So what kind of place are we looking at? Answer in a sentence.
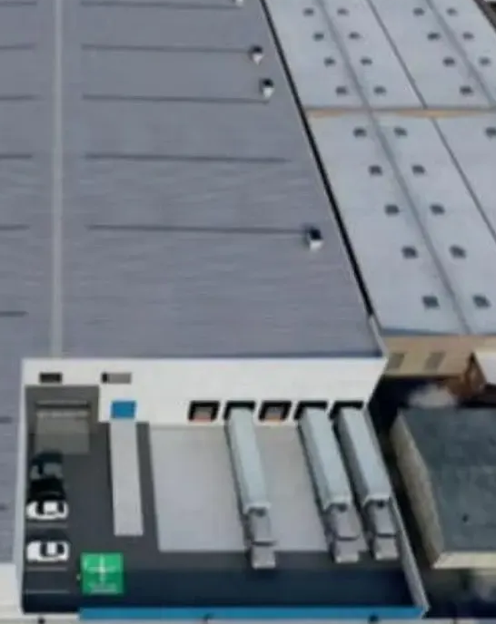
It's an industrial area.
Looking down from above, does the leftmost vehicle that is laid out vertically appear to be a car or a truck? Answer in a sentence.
The leftmost vehicle that is laid out vertically appears to be a truck.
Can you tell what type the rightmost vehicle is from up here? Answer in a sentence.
The rightmost vehicle is a truck.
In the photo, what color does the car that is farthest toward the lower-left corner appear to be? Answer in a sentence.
From above, the car that is farthest toward the lower-left corner appears white.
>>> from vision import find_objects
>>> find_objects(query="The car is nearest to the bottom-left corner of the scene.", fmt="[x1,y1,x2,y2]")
[26,539,69,562]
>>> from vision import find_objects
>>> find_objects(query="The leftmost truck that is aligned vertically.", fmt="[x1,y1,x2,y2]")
[228,407,279,568]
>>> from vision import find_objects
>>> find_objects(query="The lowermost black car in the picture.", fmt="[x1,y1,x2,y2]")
[24,475,64,497]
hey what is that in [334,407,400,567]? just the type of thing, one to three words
truck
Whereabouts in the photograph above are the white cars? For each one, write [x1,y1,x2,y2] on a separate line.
[26,539,69,562]
[26,499,67,521]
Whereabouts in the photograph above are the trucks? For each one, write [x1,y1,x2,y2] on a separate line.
[299,407,360,567]
[228,407,279,568]
[334,407,400,567]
